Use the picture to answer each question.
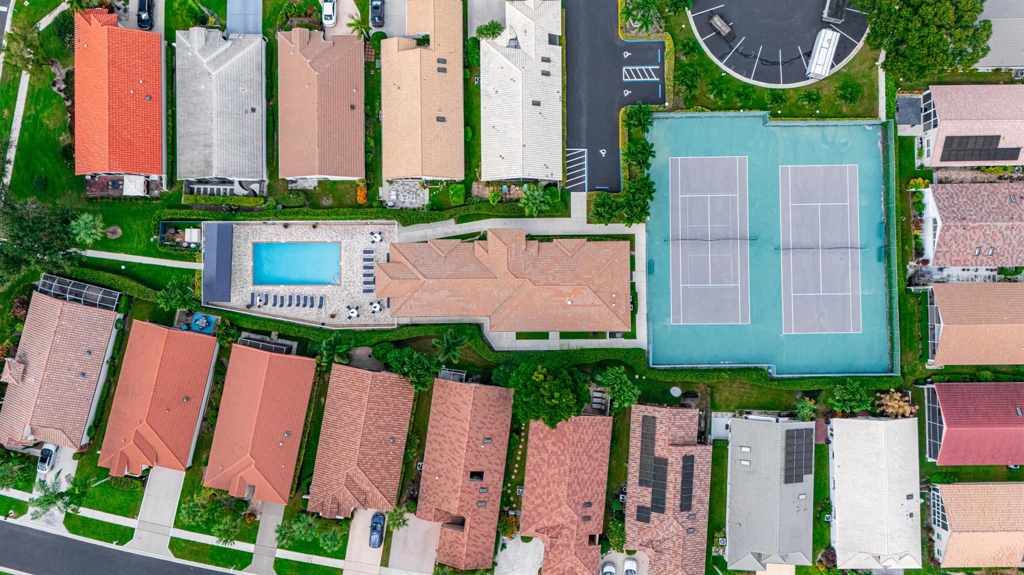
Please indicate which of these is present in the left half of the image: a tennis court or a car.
car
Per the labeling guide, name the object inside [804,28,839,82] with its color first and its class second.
white trailer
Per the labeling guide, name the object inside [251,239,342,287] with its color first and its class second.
blue swimming pool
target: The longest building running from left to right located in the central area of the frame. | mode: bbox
[375,228,630,332]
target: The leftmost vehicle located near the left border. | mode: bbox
[37,442,59,474]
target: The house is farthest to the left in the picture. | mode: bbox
[0,291,120,450]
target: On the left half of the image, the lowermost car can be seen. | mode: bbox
[369,512,386,548]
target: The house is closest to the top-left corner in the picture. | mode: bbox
[74,8,168,176]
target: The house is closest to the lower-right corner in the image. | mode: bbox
[934,482,1024,569]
